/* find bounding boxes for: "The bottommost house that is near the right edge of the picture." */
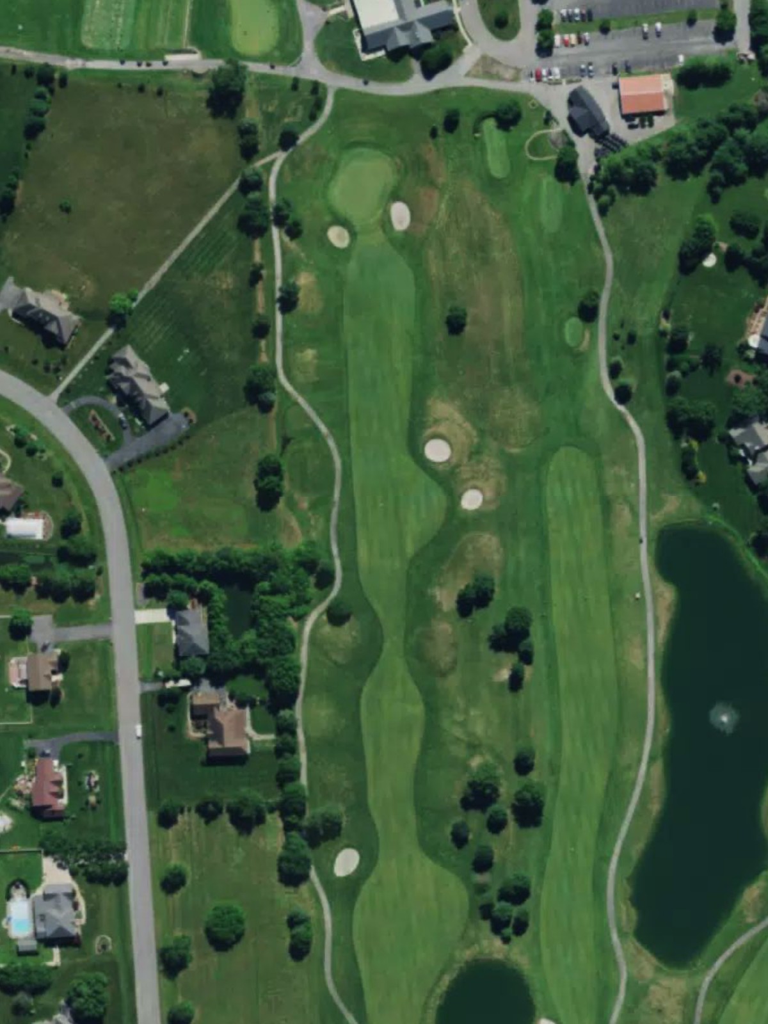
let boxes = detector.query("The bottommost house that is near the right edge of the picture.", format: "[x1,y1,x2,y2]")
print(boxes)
[730,415,768,490]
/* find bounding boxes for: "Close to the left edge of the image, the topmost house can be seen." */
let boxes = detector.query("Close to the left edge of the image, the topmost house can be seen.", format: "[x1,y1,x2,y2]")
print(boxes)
[9,285,81,343]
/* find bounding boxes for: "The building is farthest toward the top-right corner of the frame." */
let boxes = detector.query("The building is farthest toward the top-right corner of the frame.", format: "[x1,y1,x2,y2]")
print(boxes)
[620,73,666,113]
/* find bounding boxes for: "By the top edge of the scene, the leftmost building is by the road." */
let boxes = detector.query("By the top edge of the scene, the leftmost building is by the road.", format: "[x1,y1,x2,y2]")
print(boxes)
[353,0,459,54]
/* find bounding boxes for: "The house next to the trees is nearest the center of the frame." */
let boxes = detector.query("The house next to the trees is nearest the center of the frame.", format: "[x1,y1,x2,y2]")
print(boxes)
[175,610,208,656]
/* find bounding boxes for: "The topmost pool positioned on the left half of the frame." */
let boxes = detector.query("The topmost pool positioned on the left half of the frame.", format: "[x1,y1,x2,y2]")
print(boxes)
[1,512,52,541]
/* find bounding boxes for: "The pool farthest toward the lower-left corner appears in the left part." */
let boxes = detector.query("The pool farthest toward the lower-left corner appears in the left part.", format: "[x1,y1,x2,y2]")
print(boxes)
[1,898,34,939]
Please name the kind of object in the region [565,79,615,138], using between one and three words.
building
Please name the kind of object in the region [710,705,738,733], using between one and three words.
fountain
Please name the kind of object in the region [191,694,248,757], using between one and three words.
house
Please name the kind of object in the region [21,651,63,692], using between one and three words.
house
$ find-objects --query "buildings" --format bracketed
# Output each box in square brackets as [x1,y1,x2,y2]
[107,344,173,430]
[32,1001,76,1024]
[0,472,23,511]
[757,321,768,359]
[21,651,63,692]
[31,760,64,811]
[175,610,208,656]
[191,694,248,757]
[565,79,615,138]
[9,285,81,343]
[33,882,81,940]
[620,73,666,113]
[353,0,459,54]
[730,415,768,490]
